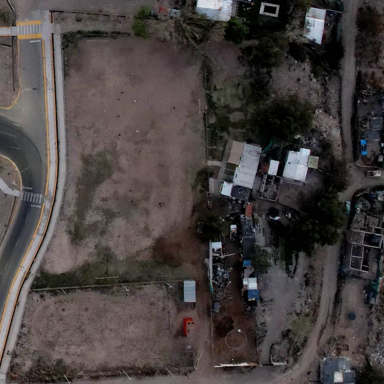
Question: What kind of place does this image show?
sports ground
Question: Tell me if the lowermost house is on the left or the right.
right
